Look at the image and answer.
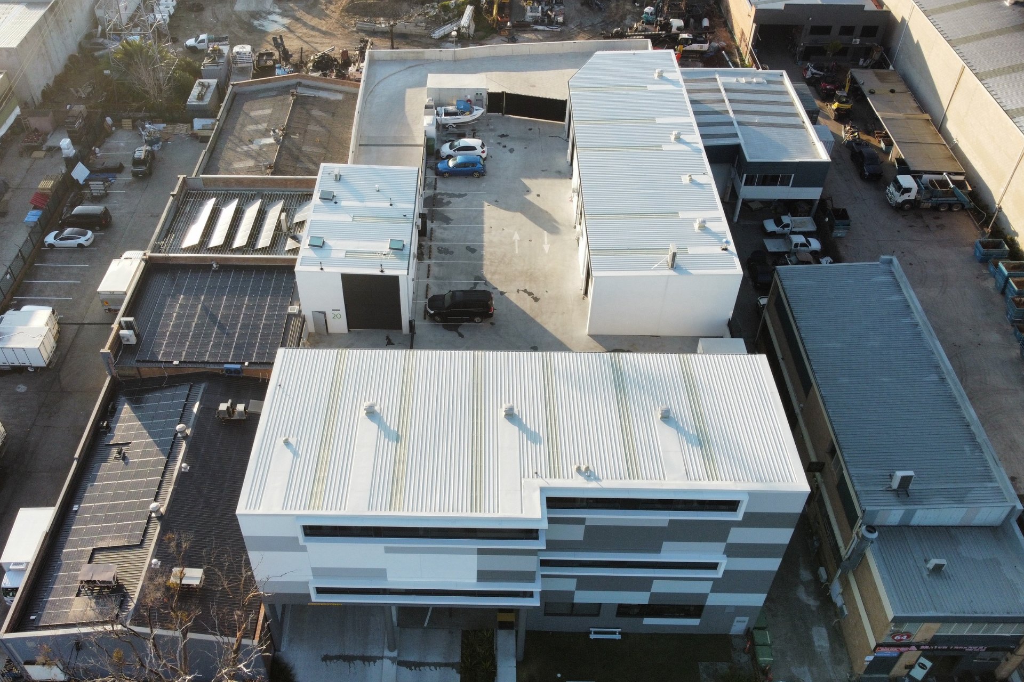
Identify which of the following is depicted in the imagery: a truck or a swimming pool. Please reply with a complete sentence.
This aerial view contains a truck.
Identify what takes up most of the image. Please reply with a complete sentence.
Most of the picture is covered by buildings.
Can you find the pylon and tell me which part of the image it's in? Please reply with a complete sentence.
The pylon is located in the top left region of the scene.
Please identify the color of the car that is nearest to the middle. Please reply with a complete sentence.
From above, the car that is nearest to the middle appears black.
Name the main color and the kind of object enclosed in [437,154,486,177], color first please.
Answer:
blue car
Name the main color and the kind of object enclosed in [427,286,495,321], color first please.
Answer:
black car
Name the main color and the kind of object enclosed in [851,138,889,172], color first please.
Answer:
black truck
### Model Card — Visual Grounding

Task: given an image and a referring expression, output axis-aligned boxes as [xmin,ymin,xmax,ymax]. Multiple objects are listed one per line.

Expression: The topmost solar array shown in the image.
[180,199,310,248]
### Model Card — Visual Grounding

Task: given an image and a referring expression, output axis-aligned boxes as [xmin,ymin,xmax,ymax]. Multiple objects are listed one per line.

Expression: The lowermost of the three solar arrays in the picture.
[21,383,193,621]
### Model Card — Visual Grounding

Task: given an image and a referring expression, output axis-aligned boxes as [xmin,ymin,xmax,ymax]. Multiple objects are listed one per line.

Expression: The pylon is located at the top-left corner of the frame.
[92,0,185,88]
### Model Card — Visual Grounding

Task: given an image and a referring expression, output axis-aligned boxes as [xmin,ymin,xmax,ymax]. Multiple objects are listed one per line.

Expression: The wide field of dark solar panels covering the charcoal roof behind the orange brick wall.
[131,265,298,366]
